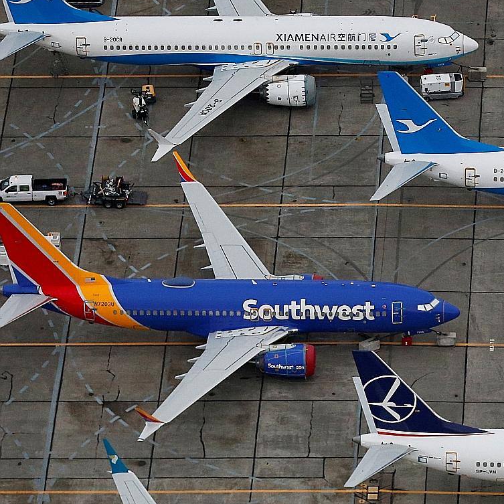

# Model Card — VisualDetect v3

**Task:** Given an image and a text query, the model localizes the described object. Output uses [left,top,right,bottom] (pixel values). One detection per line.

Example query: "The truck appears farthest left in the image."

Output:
[0,171,76,203]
